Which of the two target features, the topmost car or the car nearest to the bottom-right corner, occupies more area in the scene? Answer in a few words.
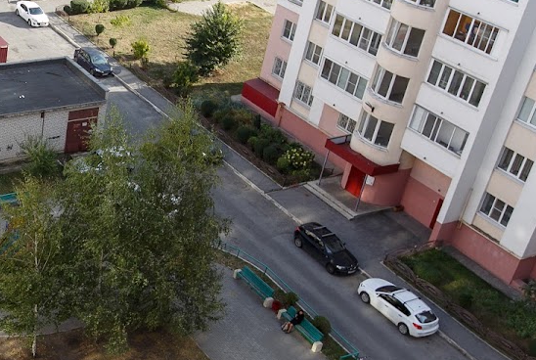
the car nearest to the bottom-right corner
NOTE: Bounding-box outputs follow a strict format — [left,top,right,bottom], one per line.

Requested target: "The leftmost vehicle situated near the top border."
[11,2,52,29]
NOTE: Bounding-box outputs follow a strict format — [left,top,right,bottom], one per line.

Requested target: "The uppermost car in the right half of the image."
[290,220,362,281]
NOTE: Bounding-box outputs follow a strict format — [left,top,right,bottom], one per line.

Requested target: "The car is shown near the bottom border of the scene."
[356,282,443,344]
